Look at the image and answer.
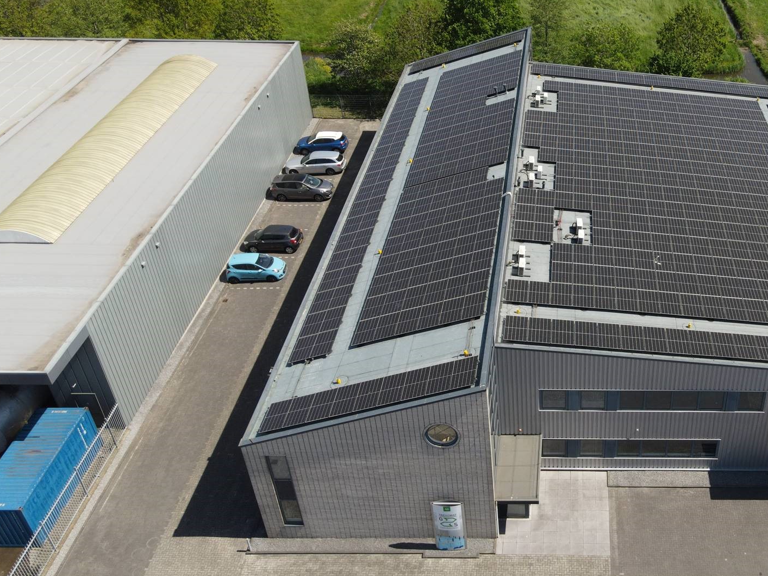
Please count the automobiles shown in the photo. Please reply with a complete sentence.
There are 5 automobiles in the image.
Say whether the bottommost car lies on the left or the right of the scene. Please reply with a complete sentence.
The bottommost car is on the left side of the image.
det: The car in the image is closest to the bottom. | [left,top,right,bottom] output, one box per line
[224,251,290,282]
